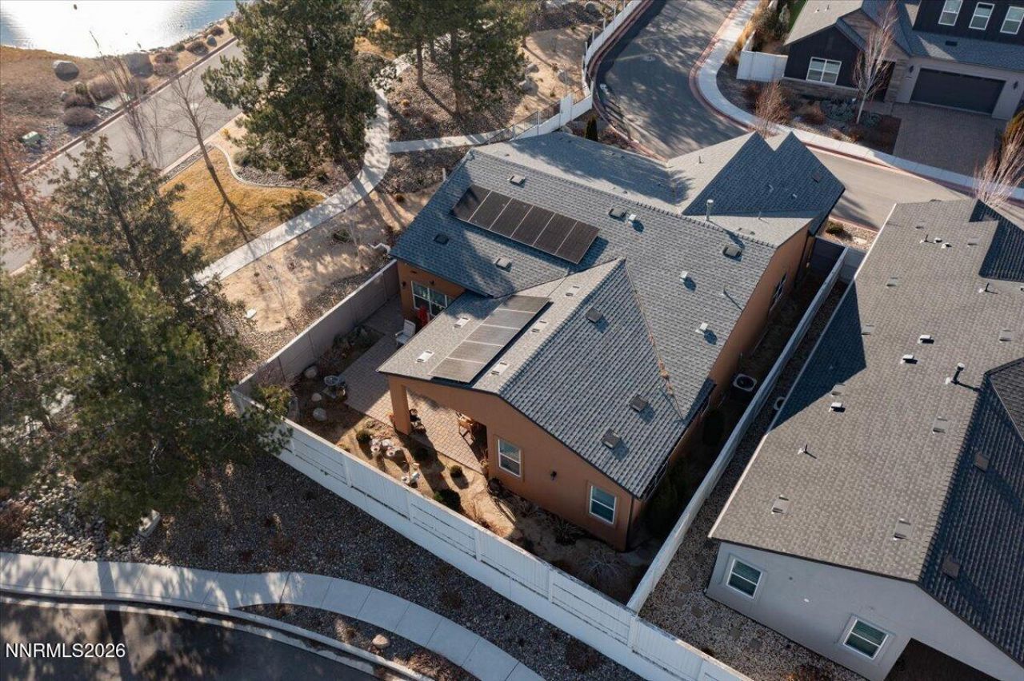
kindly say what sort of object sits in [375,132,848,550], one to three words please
house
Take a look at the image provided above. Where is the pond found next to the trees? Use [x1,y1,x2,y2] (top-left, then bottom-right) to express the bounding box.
[0,0,228,56]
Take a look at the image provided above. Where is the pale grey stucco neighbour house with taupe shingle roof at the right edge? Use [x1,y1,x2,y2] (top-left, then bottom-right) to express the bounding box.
[703,197,1024,681]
